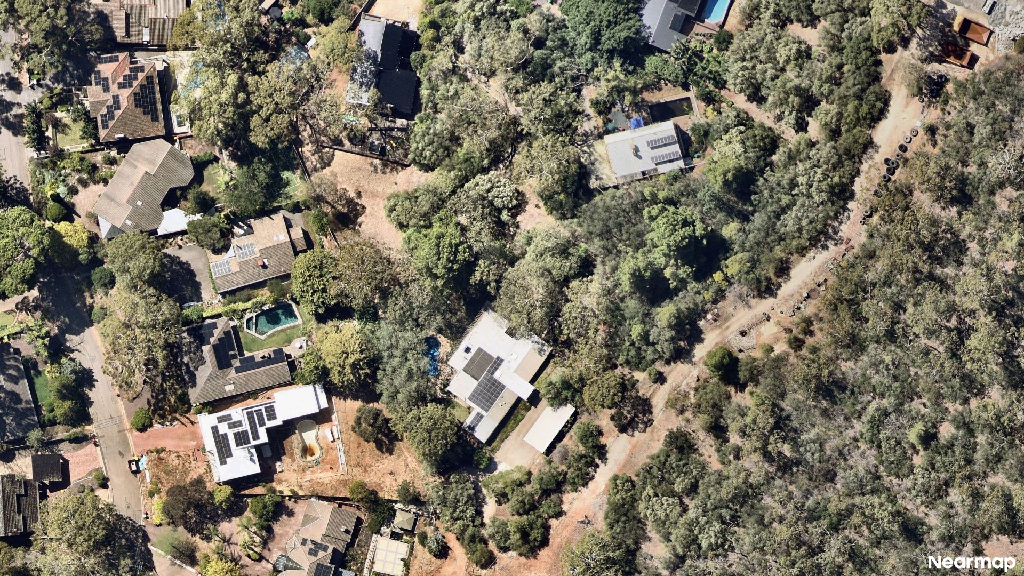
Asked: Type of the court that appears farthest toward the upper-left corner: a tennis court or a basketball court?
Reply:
tennis court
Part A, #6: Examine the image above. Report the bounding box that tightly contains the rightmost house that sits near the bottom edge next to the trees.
[276,498,358,576]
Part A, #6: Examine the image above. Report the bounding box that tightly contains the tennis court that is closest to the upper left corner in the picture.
[252,140,302,205]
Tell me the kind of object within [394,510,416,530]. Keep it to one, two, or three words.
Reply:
gazebo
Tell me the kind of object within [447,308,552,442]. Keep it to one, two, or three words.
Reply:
house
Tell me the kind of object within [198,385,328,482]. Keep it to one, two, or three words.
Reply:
house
